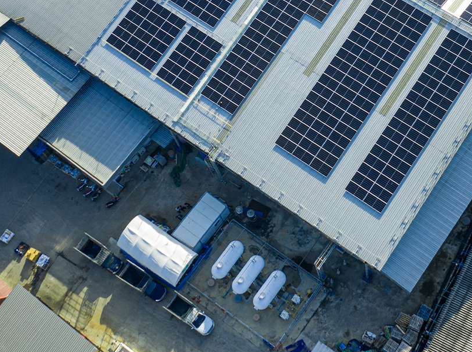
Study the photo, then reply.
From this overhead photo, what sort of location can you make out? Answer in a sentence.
What you see here is an industrial area.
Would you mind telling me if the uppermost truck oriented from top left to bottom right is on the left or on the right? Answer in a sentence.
The uppermost truck oriented from top left to bottom right sits on the left side.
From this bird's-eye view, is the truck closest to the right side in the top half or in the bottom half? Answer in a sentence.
The truck closest to the right side sits in the bottom half of the picture.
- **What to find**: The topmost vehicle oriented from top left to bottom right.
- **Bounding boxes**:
[71,239,125,283]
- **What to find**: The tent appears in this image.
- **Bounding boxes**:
[115,214,207,295]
